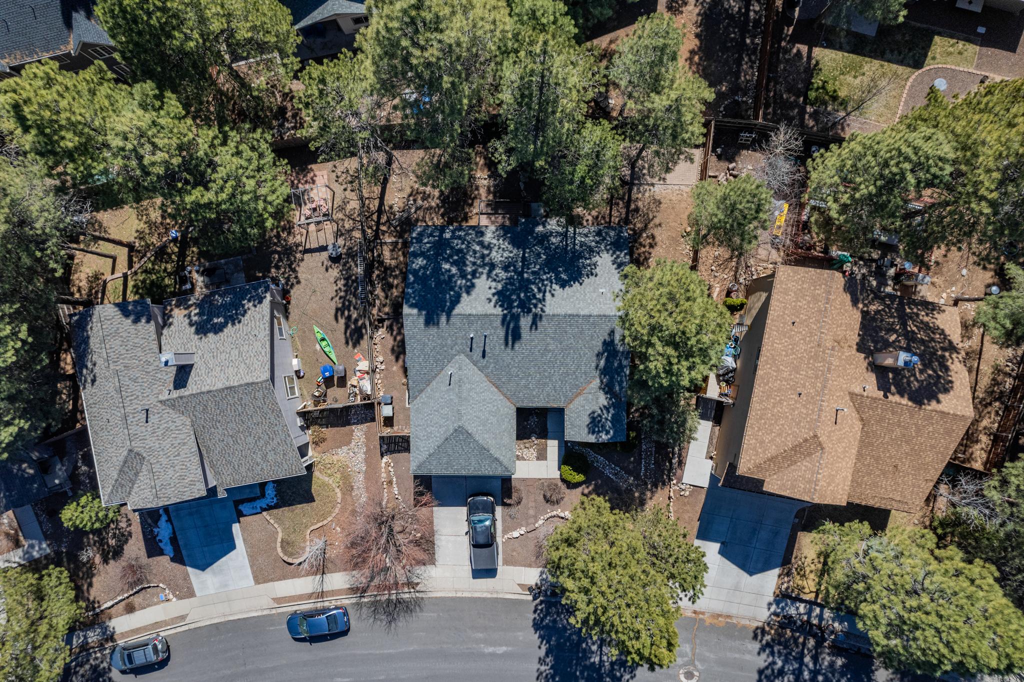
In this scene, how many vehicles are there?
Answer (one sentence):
The picture shows 3 vehicles.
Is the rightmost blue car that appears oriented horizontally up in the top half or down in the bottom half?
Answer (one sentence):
The bottom half of the photo is where the rightmost blue car that appears oriented horizontally is.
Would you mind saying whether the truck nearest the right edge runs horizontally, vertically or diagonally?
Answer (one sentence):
The truck nearest the right edge is laid out vertically.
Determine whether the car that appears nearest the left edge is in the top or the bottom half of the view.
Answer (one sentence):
The bottom half of the photo is where the car that appears nearest the left edge is.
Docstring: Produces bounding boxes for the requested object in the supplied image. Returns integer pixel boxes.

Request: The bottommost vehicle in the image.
[108,637,170,677]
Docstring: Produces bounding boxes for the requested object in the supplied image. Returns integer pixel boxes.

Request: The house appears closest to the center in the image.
[402,218,634,475]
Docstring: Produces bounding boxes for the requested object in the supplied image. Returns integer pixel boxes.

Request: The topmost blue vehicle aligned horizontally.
[286,609,352,645]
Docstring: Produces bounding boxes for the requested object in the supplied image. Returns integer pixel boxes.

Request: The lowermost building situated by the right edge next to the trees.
[718,265,974,514]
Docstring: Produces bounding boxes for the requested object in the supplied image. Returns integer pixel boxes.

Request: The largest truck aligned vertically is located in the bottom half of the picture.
[466,493,500,577]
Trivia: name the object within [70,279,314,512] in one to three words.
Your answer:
house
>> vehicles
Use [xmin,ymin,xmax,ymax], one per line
[286,609,352,645]
[466,493,500,577]
[108,637,170,677]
